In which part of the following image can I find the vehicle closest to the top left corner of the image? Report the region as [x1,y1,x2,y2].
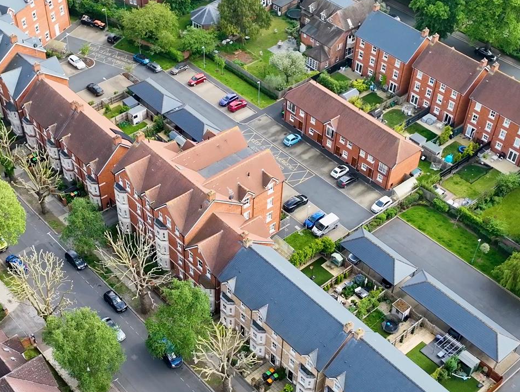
[69,54,87,70]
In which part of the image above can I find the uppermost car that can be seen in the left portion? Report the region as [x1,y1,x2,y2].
[105,33,126,46]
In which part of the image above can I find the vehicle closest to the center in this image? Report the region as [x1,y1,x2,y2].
[282,194,310,213]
